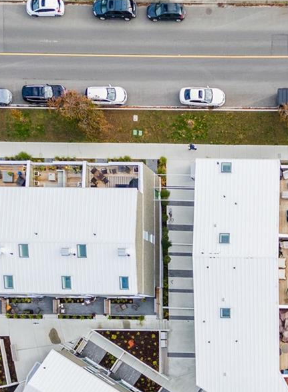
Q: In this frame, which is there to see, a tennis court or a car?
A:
car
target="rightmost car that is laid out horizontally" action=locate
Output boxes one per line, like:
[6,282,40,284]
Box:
[181,87,225,107]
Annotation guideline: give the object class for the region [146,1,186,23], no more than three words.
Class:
car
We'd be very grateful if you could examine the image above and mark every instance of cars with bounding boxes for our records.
[93,0,138,21]
[85,84,129,106]
[181,87,225,107]
[0,89,14,106]
[146,1,186,23]
[21,82,66,105]
[27,0,67,19]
